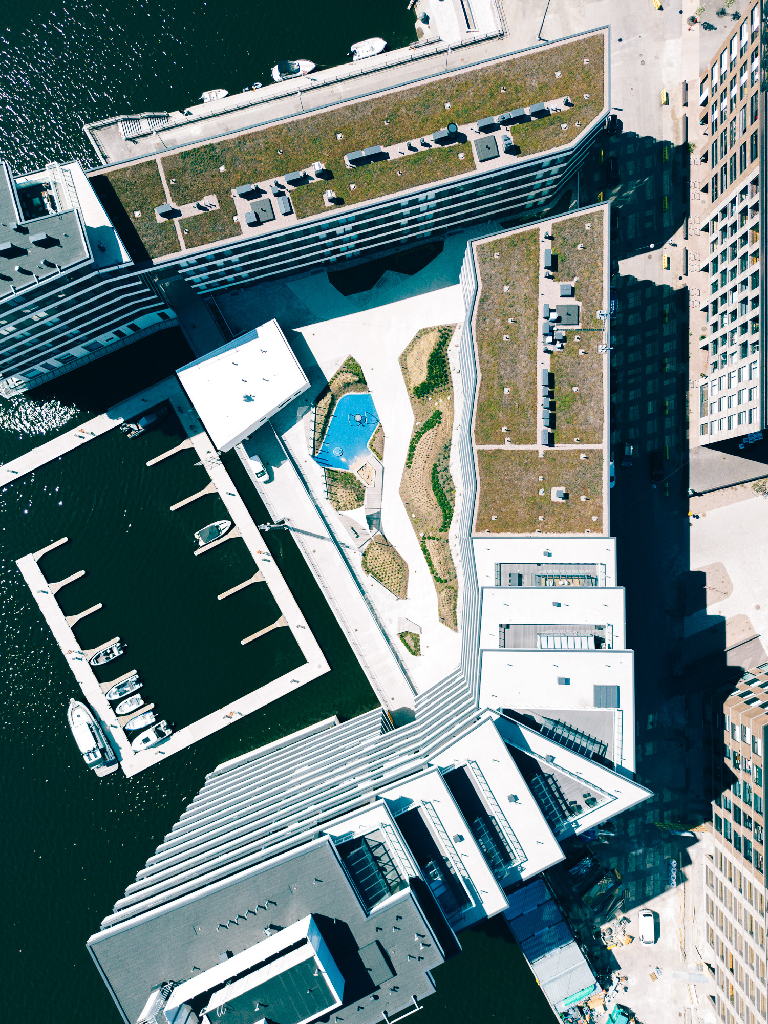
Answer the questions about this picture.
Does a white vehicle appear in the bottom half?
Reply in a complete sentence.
Yes, a white vehicle shows up in the bottom half.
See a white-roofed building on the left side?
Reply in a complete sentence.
Yes, looking on the left side, one can make out a white-roofed building.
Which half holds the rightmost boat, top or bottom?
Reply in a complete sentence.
The rightmost boat is in the top half of the image.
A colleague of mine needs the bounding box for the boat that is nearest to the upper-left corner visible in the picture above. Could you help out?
[198,87,230,103]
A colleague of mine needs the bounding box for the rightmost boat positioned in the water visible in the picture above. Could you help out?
[350,38,386,60]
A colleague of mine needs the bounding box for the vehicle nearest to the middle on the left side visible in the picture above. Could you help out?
[248,451,271,484]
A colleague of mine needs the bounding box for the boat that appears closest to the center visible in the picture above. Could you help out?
[192,514,230,549]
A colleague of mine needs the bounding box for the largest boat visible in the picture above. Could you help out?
[71,697,120,776]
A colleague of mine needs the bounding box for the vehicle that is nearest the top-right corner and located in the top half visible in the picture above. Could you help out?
[606,114,619,137]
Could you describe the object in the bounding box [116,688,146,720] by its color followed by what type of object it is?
white boat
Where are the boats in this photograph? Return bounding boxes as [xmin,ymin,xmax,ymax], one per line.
[246,83,263,91]
[350,38,386,60]
[71,697,120,776]
[116,688,146,720]
[91,639,125,670]
[121,401,166,442]
[192,514,230,549]
[125,706,157,737]
[272,53,318,83]
[106,670,144,708]
[132,717,172,755]
[198,87,230,103]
